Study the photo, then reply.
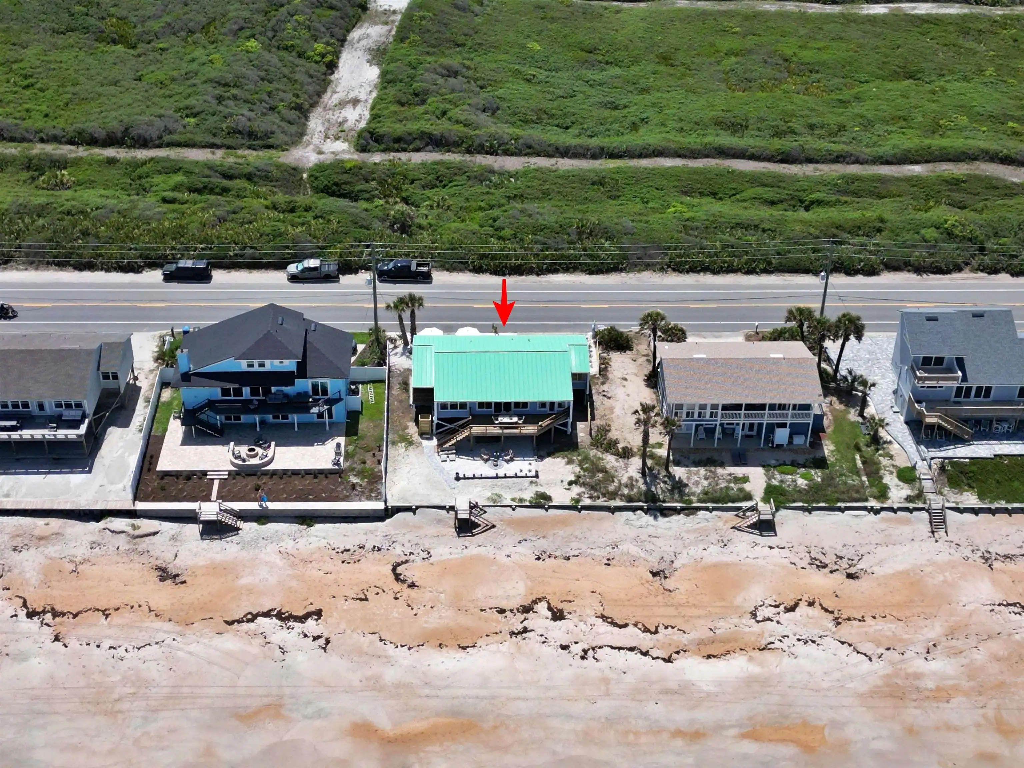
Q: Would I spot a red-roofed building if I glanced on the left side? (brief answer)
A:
No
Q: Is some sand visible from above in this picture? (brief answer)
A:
Yes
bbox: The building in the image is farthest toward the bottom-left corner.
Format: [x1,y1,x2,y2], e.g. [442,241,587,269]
[0,334,138,456]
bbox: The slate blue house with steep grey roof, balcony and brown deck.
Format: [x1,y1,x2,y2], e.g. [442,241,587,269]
[891,311,1024,441]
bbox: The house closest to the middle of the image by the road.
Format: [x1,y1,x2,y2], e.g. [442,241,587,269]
[409,333,591,454]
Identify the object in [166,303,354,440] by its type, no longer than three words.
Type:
house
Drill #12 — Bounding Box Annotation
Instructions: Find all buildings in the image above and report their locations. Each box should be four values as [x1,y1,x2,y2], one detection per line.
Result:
[0,334,138,456]
[649,342,829,447]
[409,333,591,454]
[891,311,1024,441]
[166,303,354,440]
